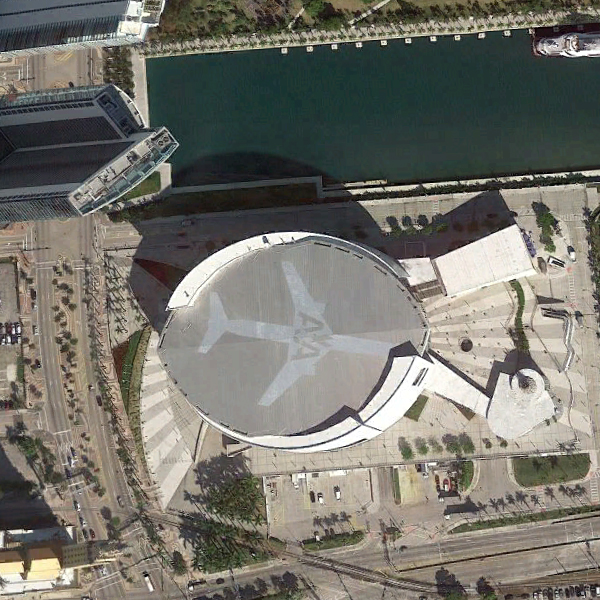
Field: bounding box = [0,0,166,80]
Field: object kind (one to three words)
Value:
building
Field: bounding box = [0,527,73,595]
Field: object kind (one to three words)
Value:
building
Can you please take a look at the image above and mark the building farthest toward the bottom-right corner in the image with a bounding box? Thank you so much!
[483,369,554,440]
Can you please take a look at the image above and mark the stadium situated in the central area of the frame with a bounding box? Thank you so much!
[157,233,434,452]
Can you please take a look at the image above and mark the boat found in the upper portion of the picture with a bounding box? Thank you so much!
[536,34,600,57]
